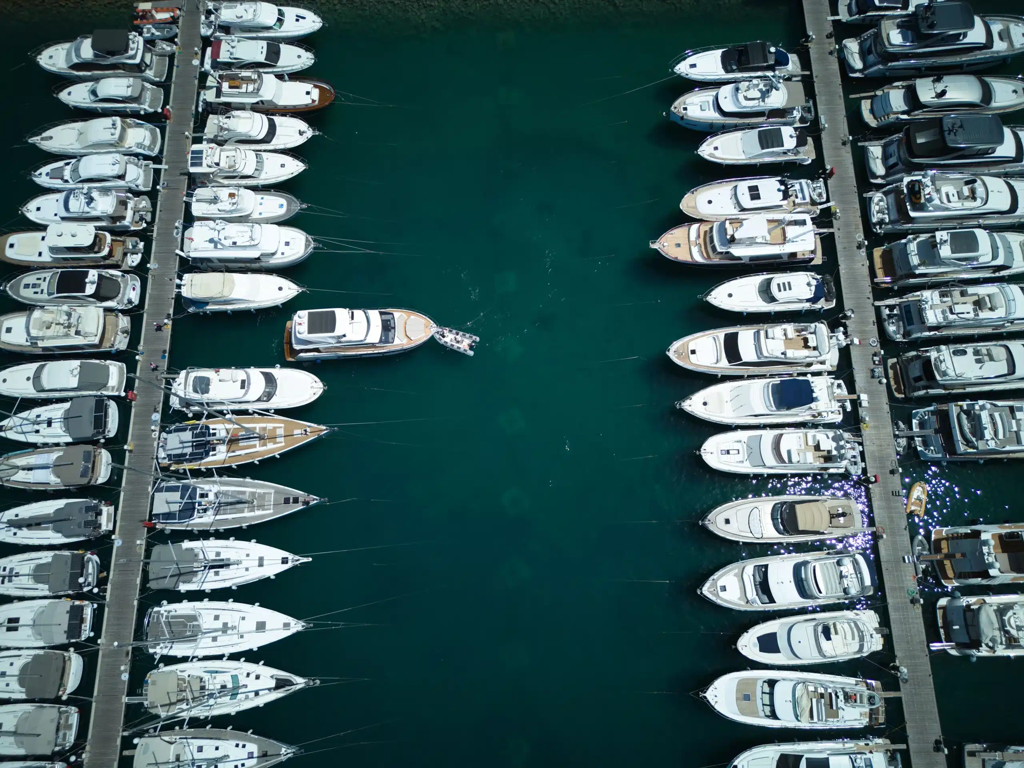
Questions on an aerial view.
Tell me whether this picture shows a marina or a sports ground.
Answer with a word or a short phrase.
marina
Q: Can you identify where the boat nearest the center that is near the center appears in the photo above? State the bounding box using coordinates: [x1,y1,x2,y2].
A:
[434,326,476,356]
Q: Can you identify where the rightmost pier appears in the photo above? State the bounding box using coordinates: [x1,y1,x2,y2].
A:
[801,0,947,768]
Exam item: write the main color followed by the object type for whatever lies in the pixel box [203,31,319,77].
white boat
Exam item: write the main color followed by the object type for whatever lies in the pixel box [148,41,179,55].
gray boat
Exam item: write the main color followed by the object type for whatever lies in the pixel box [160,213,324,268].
white boat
